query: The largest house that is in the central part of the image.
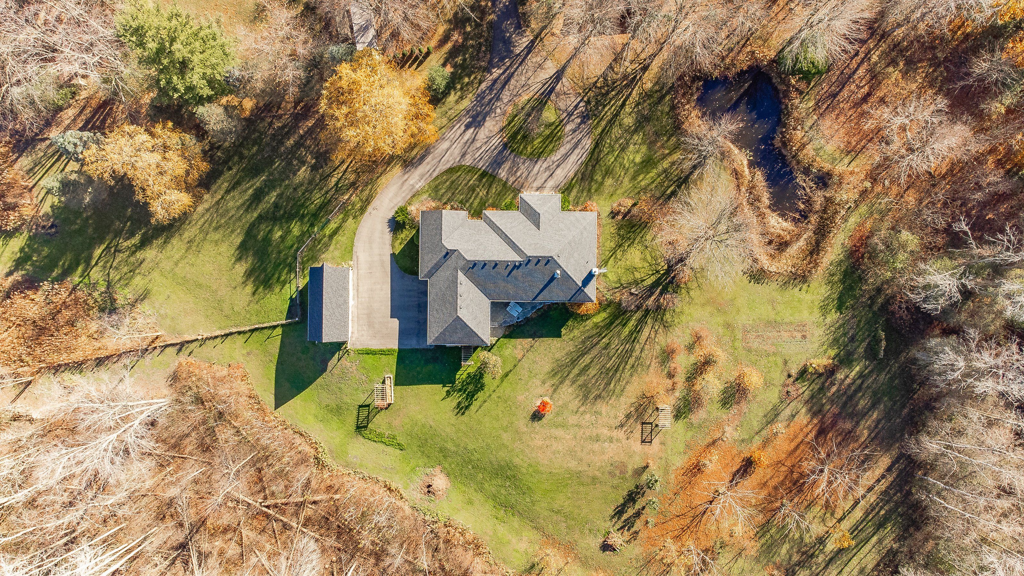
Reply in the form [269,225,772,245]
[419,189,609,346]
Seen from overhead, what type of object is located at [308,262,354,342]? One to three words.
shed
